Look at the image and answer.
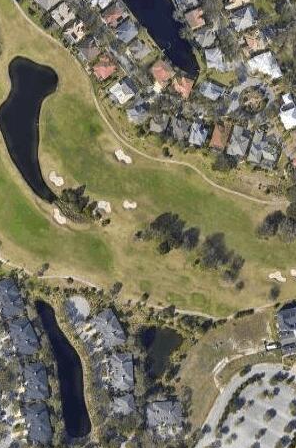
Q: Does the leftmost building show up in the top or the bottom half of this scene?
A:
bottom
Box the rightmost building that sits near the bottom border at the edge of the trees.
[147,400,184,431]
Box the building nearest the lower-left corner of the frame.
[24,402,53,445]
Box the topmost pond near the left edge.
[0,57,57,202]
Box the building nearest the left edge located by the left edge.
[0,278,22,318]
